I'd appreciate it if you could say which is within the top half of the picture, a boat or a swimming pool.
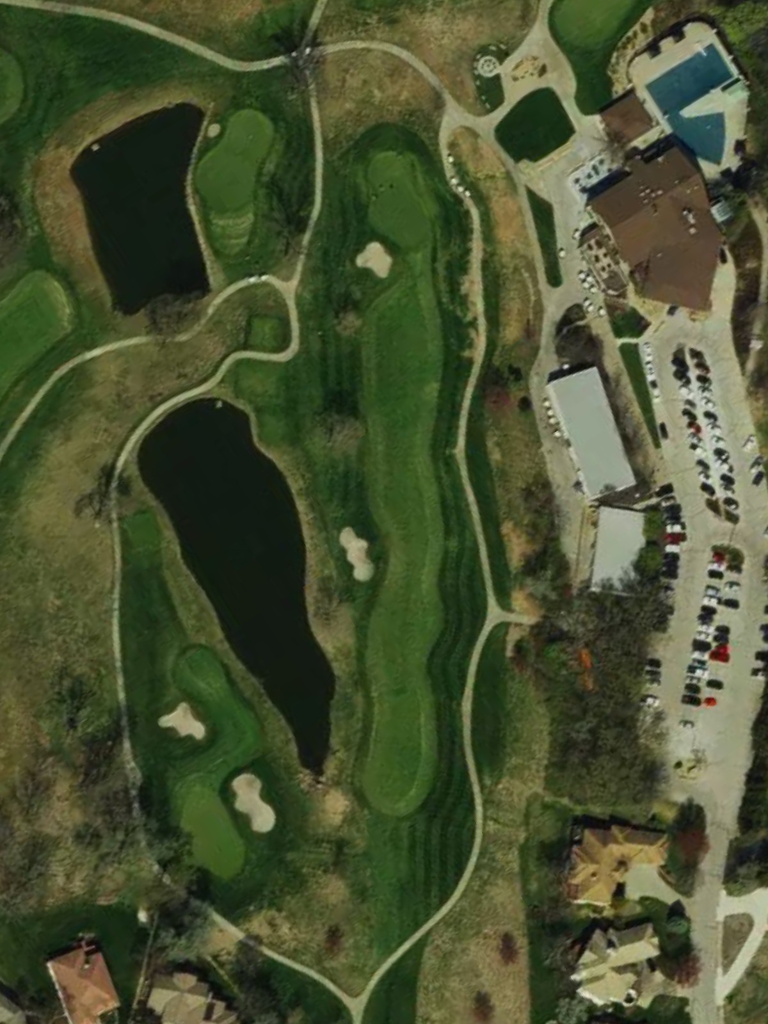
swimming pool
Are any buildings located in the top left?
No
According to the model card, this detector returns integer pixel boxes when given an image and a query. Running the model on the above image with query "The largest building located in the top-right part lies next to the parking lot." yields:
[586,147,724,312]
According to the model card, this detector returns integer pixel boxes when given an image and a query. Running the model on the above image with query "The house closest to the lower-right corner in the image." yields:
[574,925,663,1005]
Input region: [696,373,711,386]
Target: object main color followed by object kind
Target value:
black vehicle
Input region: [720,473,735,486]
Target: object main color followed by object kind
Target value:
black vehicle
